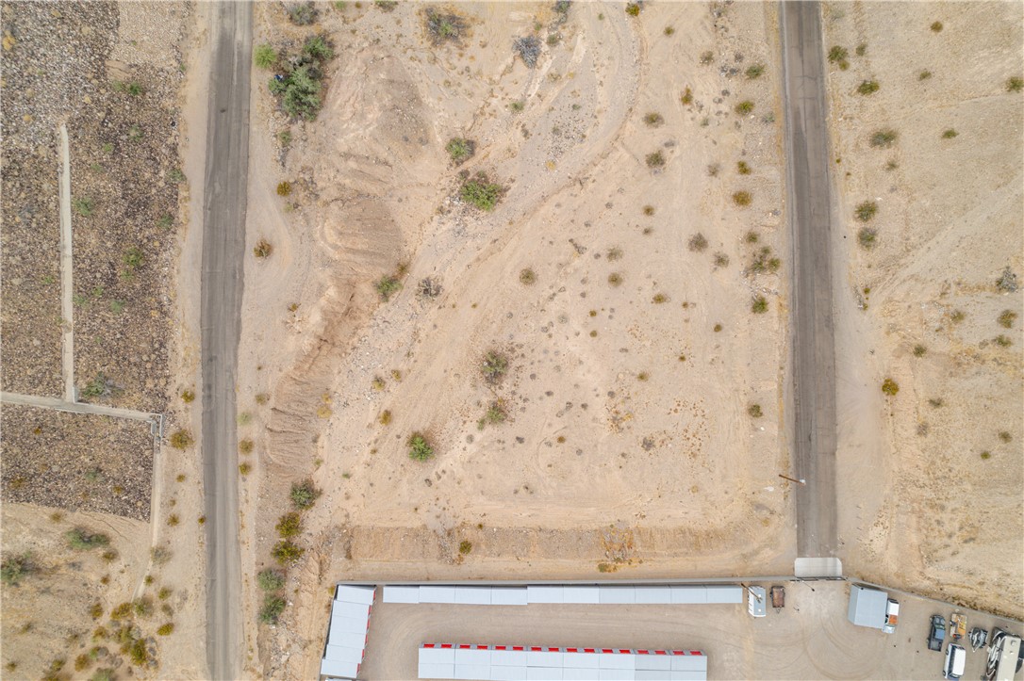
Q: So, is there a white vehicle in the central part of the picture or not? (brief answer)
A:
No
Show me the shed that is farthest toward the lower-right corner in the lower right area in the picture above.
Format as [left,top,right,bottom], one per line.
[846,584,887,629]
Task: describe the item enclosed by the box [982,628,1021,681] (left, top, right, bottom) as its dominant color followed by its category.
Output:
white camper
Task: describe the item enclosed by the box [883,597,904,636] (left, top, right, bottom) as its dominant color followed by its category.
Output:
white truck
